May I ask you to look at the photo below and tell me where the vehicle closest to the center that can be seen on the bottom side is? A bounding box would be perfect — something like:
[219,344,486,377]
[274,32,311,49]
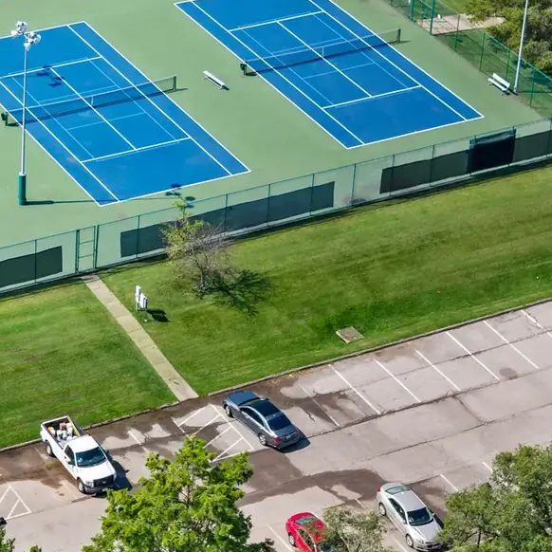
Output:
[231,390,299,445]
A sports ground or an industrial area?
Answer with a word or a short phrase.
sports ground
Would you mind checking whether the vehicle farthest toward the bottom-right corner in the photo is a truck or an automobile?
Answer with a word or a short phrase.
automobile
